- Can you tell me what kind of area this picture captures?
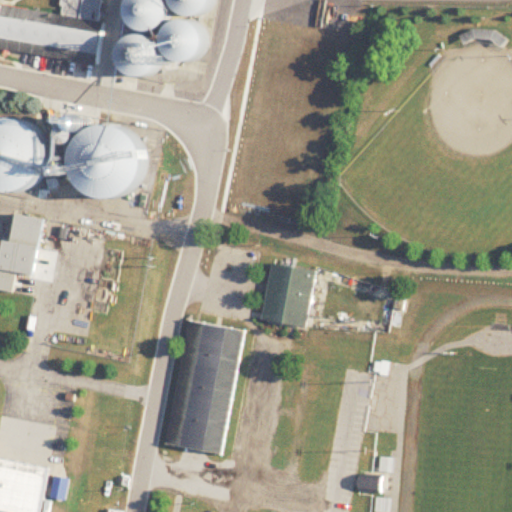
industrial area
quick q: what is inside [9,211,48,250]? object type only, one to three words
building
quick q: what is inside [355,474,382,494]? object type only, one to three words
shed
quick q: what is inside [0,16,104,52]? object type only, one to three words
building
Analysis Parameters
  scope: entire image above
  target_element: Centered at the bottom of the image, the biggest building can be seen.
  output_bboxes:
[160,321,244,454]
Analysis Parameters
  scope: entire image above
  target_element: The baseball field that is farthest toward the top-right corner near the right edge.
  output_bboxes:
[342,40,512,253]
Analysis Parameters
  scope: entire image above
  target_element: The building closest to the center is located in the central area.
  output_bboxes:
[262,264,316,328]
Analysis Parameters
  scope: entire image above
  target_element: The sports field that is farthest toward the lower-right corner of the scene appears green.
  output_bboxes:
[406,304,512,512]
